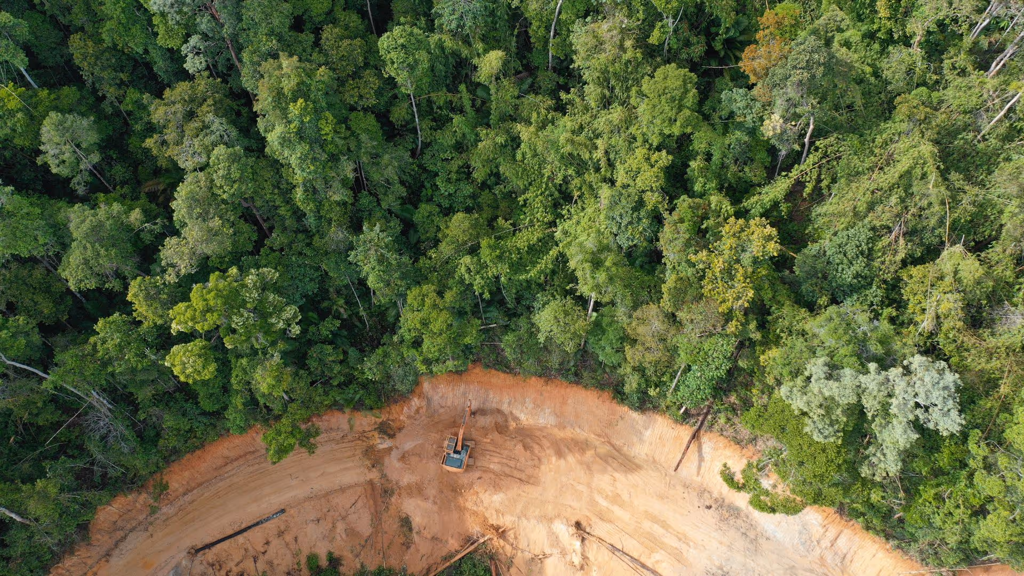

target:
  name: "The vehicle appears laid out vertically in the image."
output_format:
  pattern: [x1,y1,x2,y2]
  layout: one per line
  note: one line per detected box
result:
[441,400,480,476]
